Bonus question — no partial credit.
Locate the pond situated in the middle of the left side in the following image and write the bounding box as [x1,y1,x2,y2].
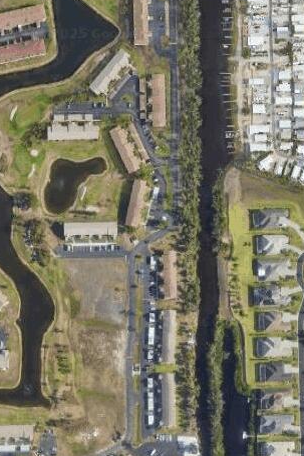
[45,157,107,214]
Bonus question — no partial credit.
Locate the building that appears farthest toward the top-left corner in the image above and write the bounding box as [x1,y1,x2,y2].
[0,5,47,31]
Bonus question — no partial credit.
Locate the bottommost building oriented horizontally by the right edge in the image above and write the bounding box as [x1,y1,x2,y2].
[259,440,296,456]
